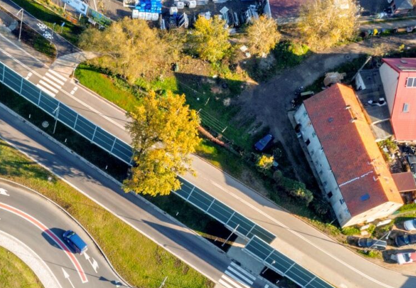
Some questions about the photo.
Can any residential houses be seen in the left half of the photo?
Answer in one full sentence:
No, no residential house is visible in the left half of the photo.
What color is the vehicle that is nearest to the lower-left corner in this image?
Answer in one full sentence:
The color of the vehicle that is nearest to the lower-left corner is blue.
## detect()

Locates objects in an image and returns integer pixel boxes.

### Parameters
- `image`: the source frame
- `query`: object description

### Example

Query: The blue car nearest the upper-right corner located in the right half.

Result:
[256,133,274,153]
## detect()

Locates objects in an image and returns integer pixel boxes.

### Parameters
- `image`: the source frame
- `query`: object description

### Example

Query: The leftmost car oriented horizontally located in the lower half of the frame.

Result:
[352,236,385,251]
